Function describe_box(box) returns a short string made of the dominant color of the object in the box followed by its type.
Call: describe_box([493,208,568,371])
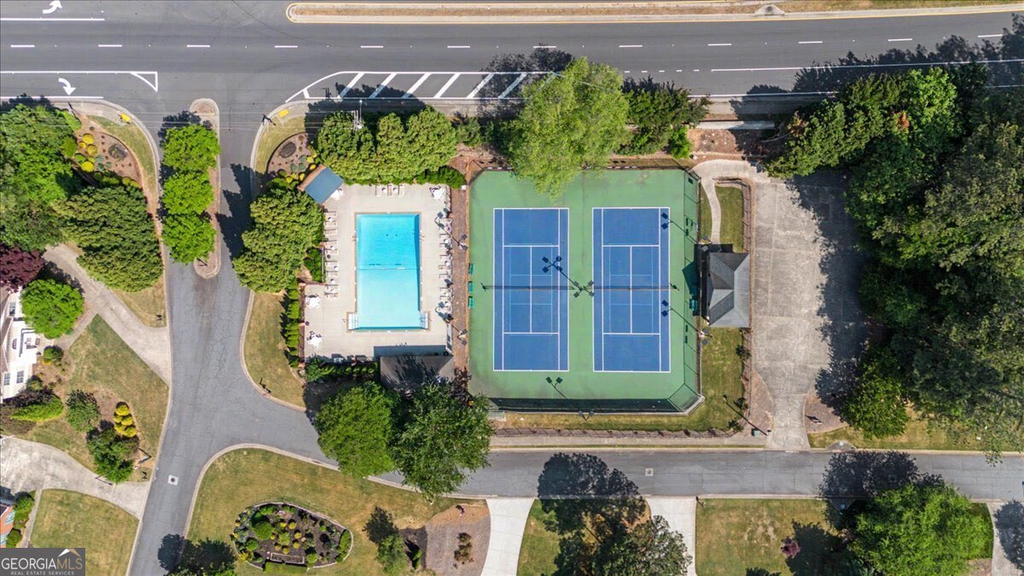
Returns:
blue tennis court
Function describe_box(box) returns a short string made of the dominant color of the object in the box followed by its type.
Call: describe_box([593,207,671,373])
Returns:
blue tennis court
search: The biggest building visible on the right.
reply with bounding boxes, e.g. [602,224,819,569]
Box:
[706,252,751,328]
